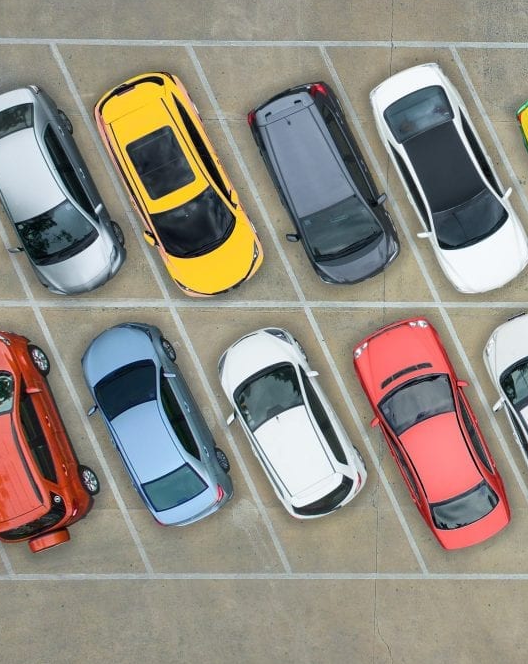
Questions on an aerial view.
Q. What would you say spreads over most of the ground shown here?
paved ground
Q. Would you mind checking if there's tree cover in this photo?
No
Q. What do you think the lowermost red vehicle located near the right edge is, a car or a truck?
car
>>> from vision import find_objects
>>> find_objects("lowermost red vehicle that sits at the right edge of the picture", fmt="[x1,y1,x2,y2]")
[354,319,511,551]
